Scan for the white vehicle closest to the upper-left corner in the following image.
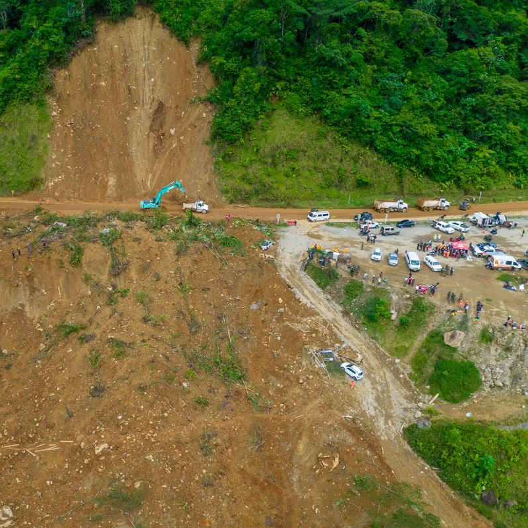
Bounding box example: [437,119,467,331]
[181,198,210,213]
